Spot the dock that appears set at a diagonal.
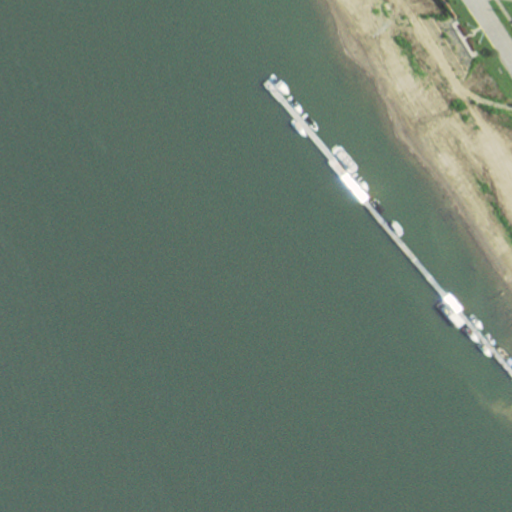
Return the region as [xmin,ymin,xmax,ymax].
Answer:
[260,76,512,376]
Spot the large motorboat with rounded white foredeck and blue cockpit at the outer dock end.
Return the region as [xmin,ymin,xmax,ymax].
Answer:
[268,70,290,96]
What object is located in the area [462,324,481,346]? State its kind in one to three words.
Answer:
boat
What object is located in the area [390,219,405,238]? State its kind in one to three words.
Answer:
boat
